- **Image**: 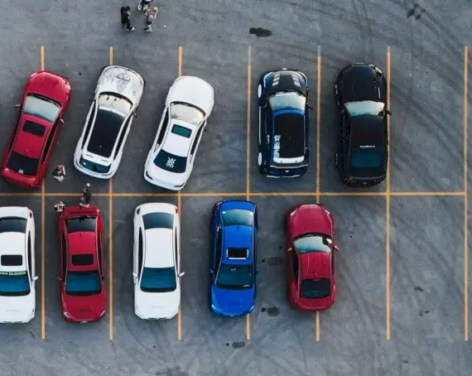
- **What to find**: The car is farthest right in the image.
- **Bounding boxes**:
[333,63,392,190]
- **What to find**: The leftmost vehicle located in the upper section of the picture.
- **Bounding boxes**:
[1,69,69,191]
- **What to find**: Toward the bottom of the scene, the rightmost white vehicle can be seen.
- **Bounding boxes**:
[130,203,187,320]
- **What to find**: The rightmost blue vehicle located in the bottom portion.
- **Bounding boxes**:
[208,202,265,317]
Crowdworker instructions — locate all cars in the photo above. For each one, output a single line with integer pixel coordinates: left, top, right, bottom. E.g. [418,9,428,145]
[286,204,344,312]
[75,64,143,181]
[56,207,113,323]
[145,74,214,195]
[1,69,69,191]
[130,203,187,320]
[208,202,265,317]
[333,63,392,190]
[0,207,42,324]
[258,70,315,176]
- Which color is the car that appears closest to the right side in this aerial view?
black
